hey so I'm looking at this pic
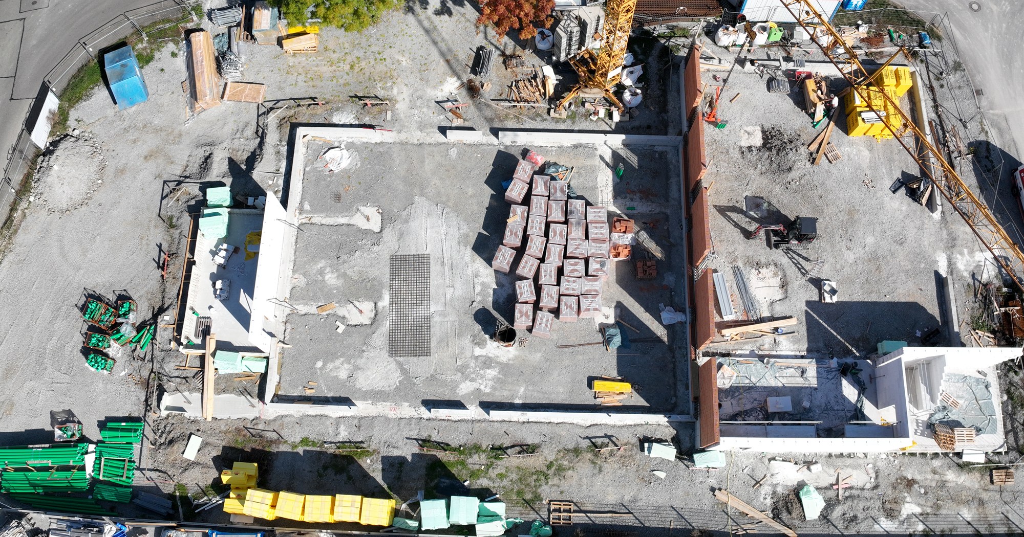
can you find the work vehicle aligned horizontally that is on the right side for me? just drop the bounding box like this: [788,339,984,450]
[745,214,816,248]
